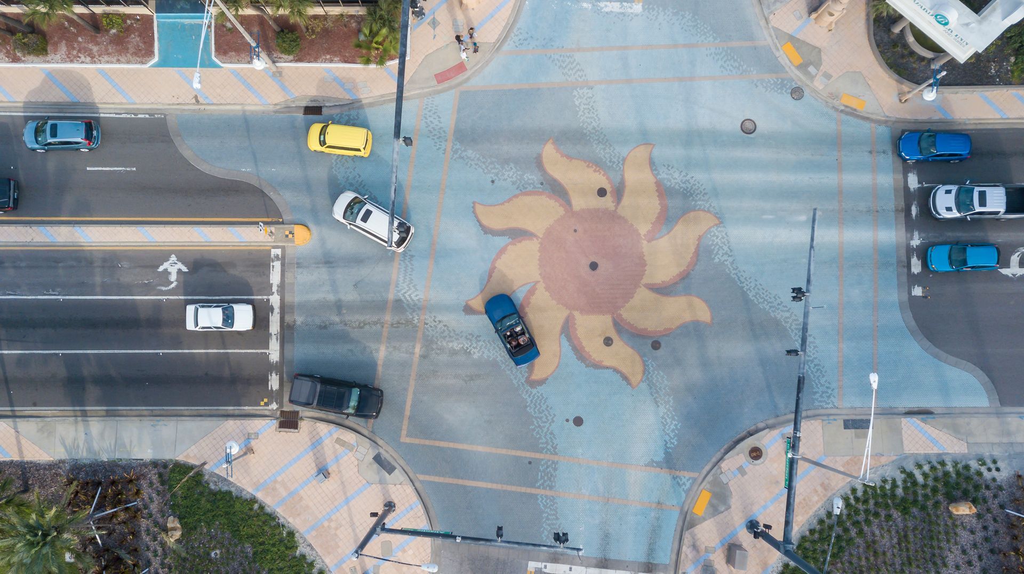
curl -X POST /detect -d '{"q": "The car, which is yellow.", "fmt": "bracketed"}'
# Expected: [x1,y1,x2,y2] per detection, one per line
[308,118,374,157]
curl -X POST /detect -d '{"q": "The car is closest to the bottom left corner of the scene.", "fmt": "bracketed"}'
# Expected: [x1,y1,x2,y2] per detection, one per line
[186,301,257,334]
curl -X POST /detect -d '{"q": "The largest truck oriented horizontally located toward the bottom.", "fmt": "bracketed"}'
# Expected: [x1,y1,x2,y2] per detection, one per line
[285,374,386,423]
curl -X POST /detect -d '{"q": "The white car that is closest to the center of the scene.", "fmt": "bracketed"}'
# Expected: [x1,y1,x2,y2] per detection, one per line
[336,194,413,251]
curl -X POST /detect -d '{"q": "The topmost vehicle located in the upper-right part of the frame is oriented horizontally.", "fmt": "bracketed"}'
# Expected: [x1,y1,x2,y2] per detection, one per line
[895,127,972,164]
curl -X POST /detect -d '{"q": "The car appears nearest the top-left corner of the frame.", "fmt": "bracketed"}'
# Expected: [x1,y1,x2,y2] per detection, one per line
[25,117,102,153]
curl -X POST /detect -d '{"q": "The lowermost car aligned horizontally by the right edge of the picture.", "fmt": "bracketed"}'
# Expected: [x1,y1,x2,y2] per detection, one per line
[925,240,1002,275]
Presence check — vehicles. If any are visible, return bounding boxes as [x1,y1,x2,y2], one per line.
[487,292,539,366]
[413,0,426,22]
[895,127,972,164]
[186,301,257,334]
[285,374,386,423]
[25,117,102,153]
[925,240,1002,275]
[926,179,1024,223]
[308,118,374,157]
[336,194,413,251]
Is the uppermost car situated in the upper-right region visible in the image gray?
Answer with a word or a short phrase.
No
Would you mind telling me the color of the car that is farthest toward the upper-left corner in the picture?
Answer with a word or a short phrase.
blue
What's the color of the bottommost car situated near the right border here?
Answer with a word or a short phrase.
blue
